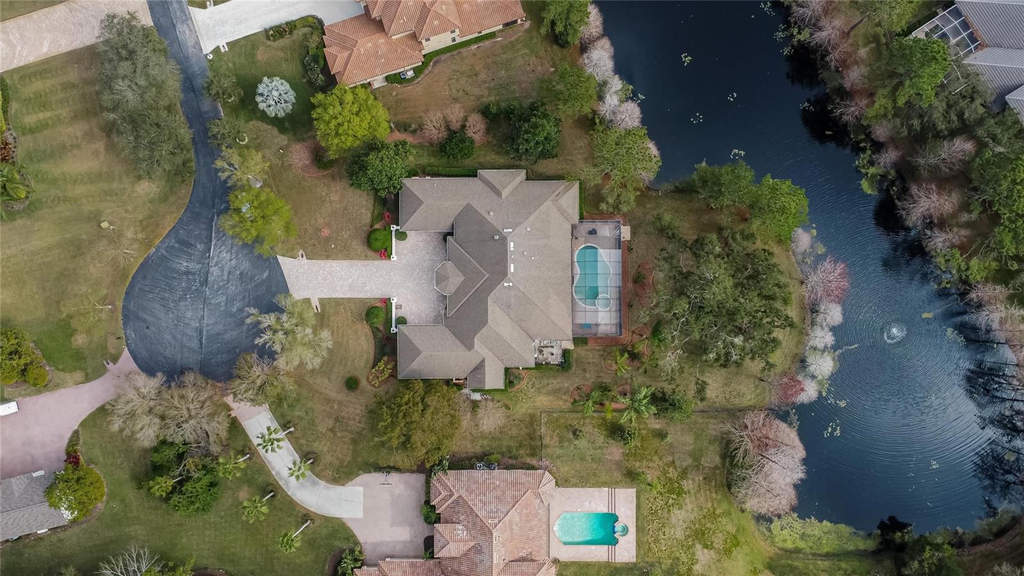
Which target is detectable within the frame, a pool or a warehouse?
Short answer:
pool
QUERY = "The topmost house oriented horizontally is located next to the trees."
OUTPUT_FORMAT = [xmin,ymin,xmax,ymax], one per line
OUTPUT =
[323,0,525,88]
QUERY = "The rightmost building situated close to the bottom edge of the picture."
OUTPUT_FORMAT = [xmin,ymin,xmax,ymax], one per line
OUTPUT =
[354,469,558,576]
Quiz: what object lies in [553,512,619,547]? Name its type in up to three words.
swimming pool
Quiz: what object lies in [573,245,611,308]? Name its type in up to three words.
swimming pool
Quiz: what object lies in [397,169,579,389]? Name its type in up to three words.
house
